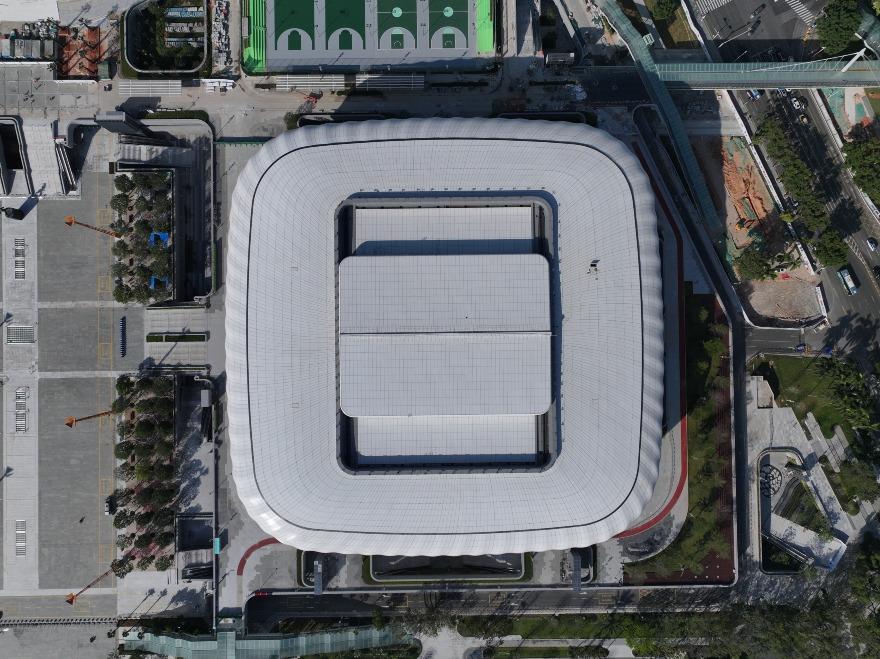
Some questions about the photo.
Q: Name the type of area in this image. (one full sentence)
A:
The area seen from above is a sports ground.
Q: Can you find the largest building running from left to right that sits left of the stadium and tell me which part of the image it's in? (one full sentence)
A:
The largest building running from left to right that sits left of the stadium appears toward the top left of the photo.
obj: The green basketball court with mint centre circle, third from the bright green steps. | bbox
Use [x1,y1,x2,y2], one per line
[377,0,417,50]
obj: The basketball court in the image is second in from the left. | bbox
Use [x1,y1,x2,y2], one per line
[326,0,365,50]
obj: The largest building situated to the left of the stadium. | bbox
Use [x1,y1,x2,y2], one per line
[176,515,215,581]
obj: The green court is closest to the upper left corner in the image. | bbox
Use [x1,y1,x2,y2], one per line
[274,0,314,50]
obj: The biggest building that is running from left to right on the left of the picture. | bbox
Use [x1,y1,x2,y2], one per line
[95,111,142,132]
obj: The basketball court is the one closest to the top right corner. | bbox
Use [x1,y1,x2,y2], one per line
[429,0,468,50]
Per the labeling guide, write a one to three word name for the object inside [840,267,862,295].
bus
